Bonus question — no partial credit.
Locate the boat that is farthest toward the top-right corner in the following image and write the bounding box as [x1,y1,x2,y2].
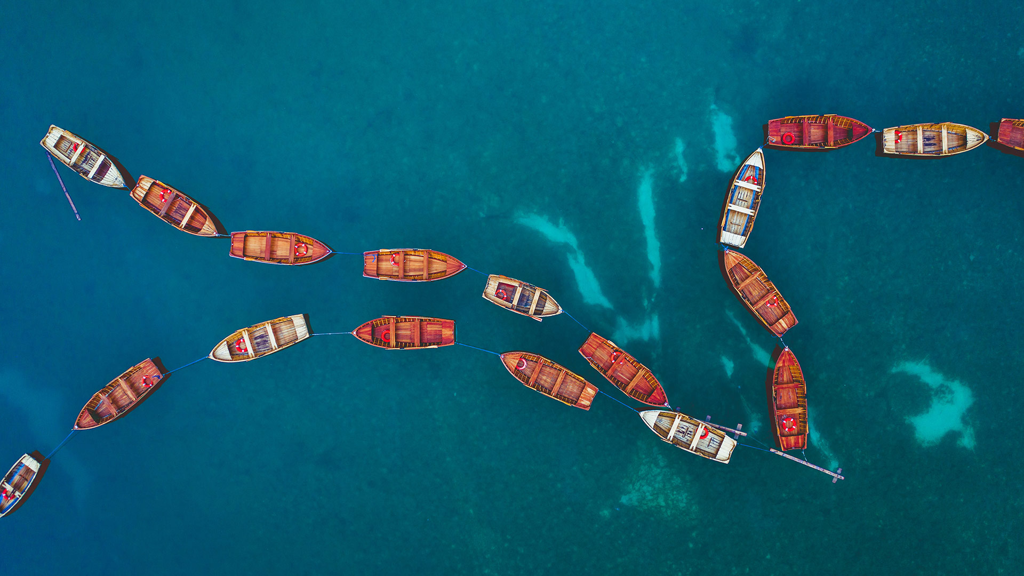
[993,118,1024,151]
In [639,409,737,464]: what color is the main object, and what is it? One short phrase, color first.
white boat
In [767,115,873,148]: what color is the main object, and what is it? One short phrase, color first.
red boat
